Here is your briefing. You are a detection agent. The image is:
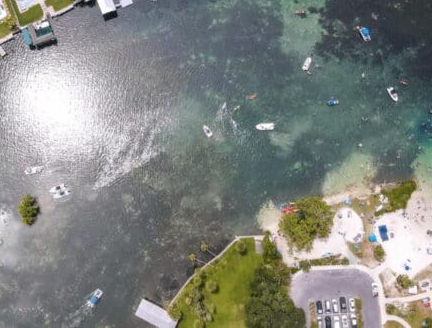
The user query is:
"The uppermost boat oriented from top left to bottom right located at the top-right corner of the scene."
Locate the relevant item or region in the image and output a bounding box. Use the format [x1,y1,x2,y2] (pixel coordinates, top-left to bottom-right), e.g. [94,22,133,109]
[359,27,371,42]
